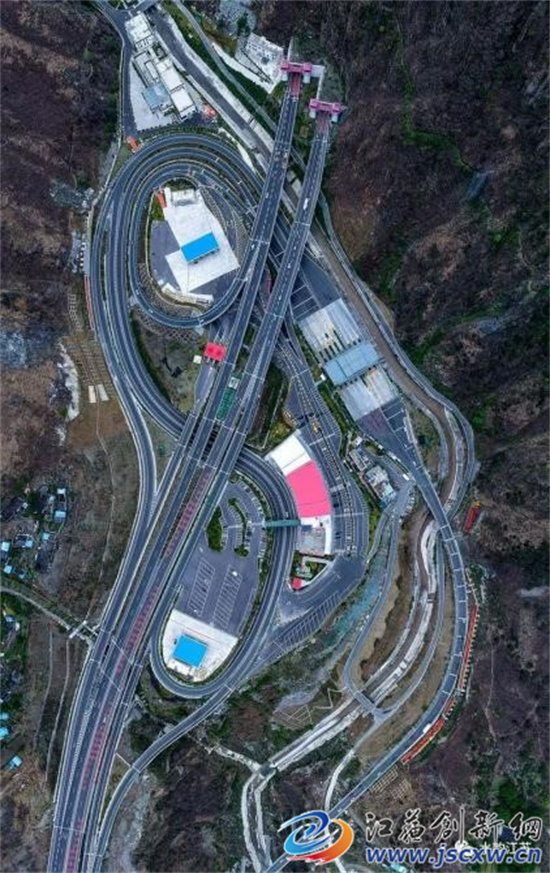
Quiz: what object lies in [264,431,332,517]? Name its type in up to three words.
building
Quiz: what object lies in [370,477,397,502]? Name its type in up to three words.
house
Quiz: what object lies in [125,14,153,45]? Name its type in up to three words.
building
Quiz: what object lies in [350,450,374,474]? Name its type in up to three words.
house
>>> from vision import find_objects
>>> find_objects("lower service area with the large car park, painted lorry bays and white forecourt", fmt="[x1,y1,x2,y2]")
[164,481,267,680]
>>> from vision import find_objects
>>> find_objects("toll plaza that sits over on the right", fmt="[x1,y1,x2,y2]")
[291,262,424,468]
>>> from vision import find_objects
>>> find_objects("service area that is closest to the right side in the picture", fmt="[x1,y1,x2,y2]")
[252,330,368,668]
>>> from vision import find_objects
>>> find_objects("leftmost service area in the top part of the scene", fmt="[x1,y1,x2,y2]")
[148,188,240,304]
